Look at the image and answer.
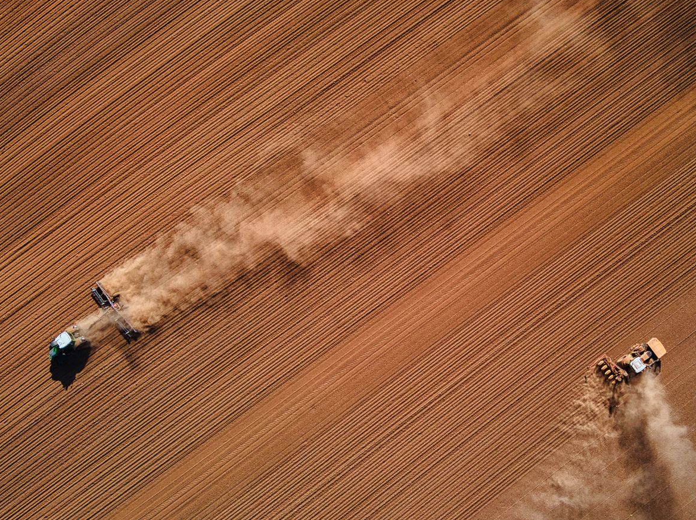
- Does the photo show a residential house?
No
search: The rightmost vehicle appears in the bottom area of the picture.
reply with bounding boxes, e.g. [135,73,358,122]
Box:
[617,340,664,379]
